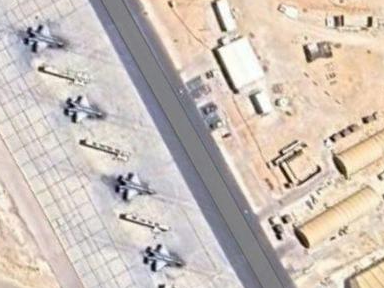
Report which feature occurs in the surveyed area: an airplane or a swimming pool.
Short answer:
airplane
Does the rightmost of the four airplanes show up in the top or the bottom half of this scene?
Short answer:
bottom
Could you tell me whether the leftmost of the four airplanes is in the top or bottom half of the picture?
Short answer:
top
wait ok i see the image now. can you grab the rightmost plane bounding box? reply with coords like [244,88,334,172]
[145,244,185,270]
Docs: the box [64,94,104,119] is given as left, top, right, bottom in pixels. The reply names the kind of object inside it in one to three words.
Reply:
airplane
